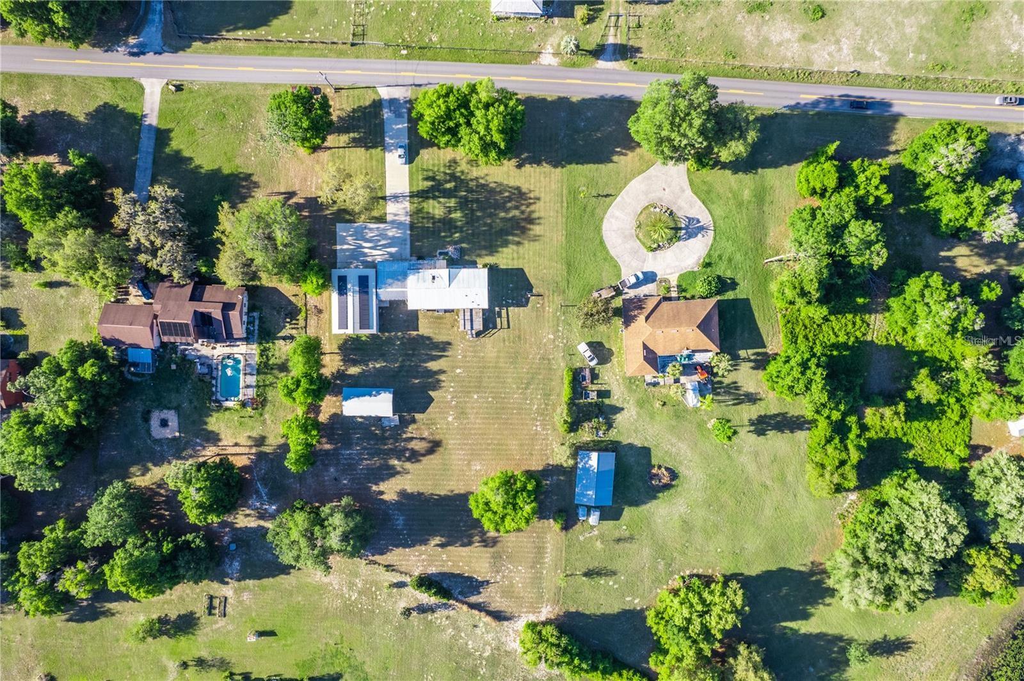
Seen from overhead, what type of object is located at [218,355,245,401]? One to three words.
swimming pool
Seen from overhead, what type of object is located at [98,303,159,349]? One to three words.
building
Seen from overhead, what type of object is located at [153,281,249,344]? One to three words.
house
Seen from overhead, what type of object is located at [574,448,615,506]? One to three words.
shed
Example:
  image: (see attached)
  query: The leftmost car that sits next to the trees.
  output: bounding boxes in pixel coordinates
[135,279,153,302]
